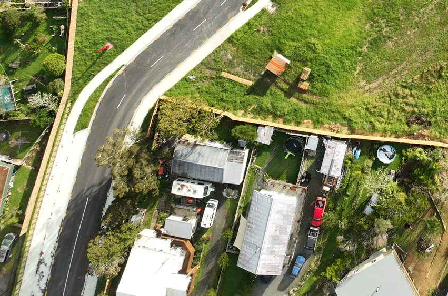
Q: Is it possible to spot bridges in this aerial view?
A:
No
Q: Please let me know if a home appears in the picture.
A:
Yes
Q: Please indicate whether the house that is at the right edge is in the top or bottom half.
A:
bottom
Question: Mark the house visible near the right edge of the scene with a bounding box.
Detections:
[334,244,428,296]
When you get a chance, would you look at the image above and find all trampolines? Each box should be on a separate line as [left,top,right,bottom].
[282,138,303,161]
[0,131,9,147]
